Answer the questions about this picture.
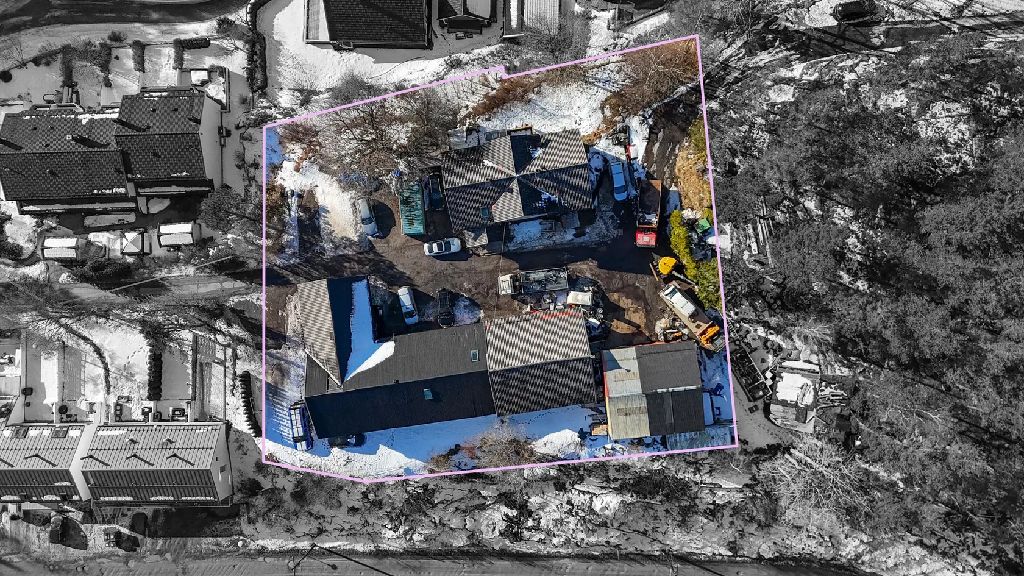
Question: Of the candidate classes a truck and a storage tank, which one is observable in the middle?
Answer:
truck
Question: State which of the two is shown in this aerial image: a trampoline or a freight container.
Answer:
freight container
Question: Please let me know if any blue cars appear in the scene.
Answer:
Yes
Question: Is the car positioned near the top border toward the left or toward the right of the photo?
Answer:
right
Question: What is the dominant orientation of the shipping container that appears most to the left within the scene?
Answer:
from top to bottom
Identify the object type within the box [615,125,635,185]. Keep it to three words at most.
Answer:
work vehicle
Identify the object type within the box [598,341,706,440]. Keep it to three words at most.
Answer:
shed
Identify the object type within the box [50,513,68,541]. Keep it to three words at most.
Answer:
car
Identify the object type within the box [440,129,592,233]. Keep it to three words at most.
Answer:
house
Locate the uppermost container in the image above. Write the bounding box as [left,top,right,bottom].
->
[402,183,428,235]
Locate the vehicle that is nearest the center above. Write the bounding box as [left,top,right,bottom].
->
[496,265,569,299]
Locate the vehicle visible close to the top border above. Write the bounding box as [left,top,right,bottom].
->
[832,0,875,22]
